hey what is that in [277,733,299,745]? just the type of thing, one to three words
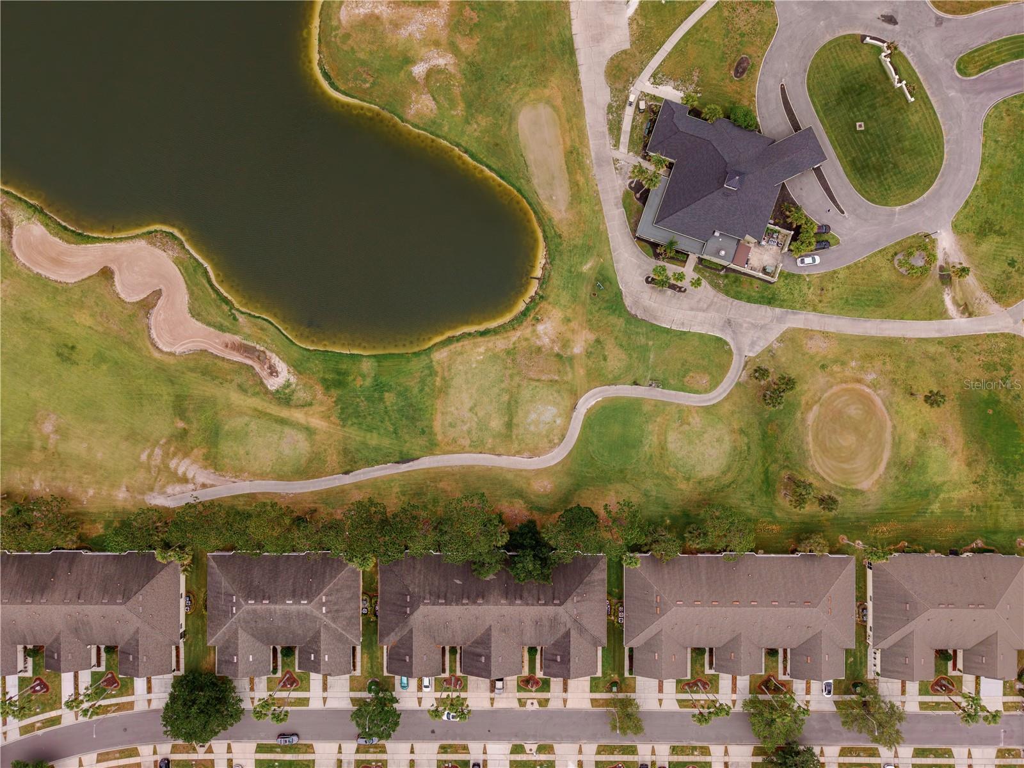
vehicle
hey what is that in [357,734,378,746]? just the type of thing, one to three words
vehicle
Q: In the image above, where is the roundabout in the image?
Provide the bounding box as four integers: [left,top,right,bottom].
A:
[806,32,946,208]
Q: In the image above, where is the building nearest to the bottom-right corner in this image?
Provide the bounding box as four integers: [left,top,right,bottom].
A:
[867,552,1024,683]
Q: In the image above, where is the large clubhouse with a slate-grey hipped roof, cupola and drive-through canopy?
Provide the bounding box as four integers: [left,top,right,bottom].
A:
[635,99,829,268]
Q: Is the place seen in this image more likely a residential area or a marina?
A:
residential area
